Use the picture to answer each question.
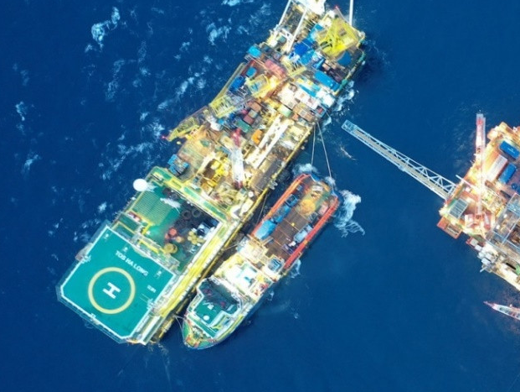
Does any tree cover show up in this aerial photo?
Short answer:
No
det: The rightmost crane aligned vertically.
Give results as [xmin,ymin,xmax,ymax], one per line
[471,114,493,229]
